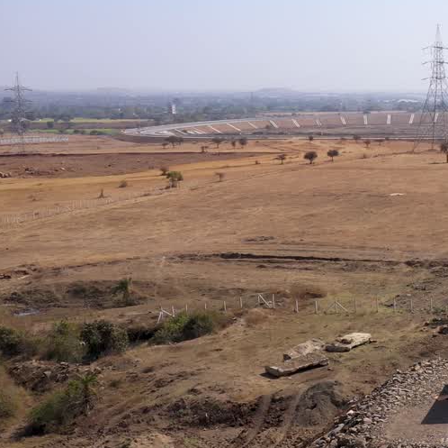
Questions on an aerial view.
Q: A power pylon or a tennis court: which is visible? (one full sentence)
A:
The one in the frame is a power pylon.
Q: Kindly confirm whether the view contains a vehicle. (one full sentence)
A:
No, the scene contains no vehicle.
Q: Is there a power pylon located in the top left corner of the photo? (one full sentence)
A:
Yes, in the top left corner of the photo there is a power pylon.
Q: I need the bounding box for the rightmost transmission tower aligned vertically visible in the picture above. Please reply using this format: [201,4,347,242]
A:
[418,24,448,149]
